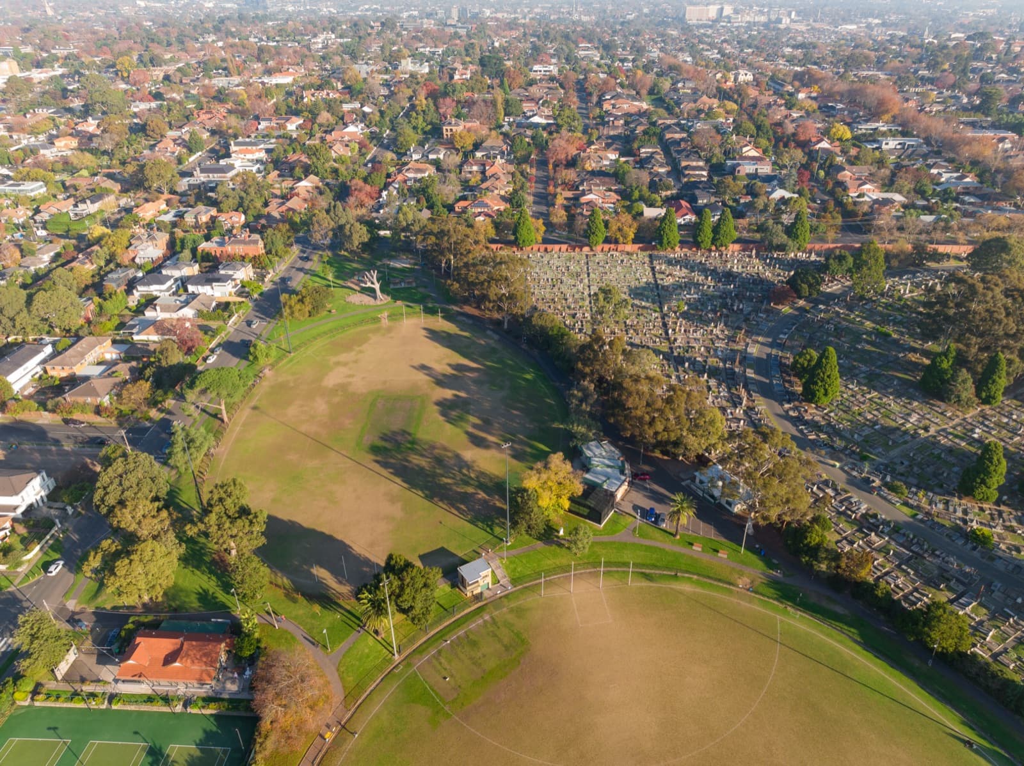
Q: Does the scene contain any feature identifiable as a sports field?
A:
Yes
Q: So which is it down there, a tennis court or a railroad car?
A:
tennis court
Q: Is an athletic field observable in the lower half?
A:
Yes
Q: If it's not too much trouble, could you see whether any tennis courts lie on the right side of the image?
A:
No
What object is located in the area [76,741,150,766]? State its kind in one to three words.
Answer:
tennis court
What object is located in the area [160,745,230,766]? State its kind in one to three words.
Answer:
tennis court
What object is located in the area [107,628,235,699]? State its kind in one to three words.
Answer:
building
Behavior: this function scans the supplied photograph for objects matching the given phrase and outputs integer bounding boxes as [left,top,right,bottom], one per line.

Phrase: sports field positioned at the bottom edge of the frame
[302,569,1024,766]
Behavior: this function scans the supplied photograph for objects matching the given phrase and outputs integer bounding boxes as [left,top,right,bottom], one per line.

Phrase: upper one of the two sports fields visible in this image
[211,315,570,595]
